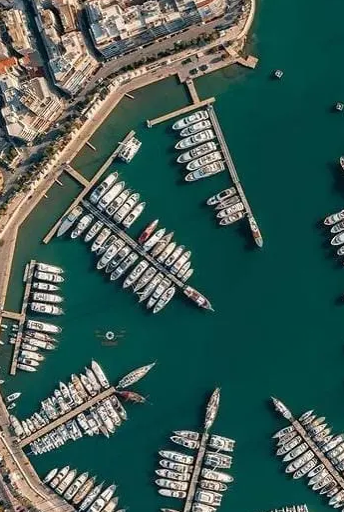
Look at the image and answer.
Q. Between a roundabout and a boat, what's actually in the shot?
boat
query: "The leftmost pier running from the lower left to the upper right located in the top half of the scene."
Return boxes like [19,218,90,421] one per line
[43,133,133,244]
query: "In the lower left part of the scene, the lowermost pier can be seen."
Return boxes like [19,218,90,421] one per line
[18,387,116,448]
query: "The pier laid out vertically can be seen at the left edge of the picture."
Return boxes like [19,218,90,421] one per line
[10,260,36,375]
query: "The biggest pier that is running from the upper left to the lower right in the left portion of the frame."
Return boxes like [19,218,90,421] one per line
[80,198,187,290]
